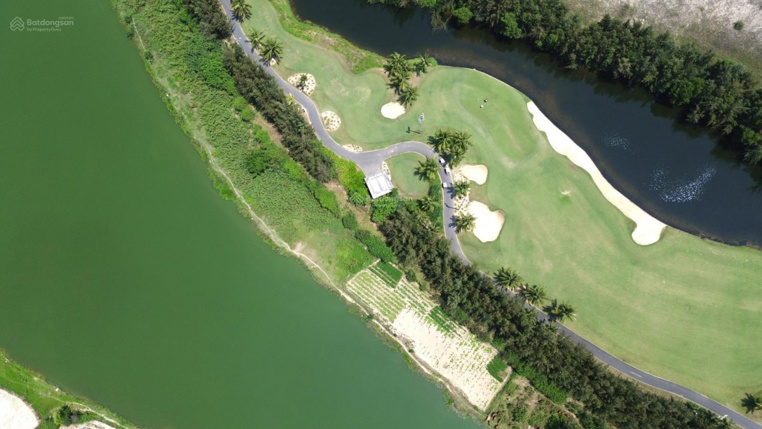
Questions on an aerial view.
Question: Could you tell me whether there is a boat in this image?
No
